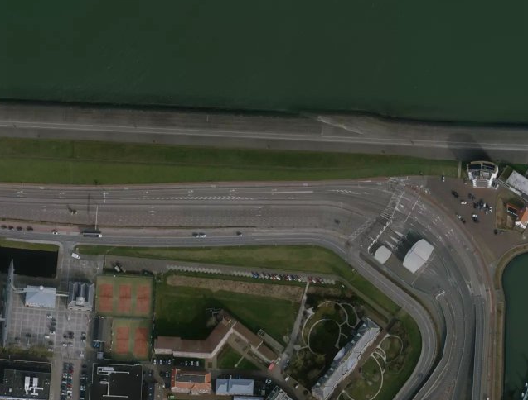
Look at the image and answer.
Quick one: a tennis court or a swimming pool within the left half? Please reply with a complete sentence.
You can see a tennis court within the left half.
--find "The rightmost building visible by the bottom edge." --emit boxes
[312,318,381,400]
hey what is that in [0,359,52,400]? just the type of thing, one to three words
building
